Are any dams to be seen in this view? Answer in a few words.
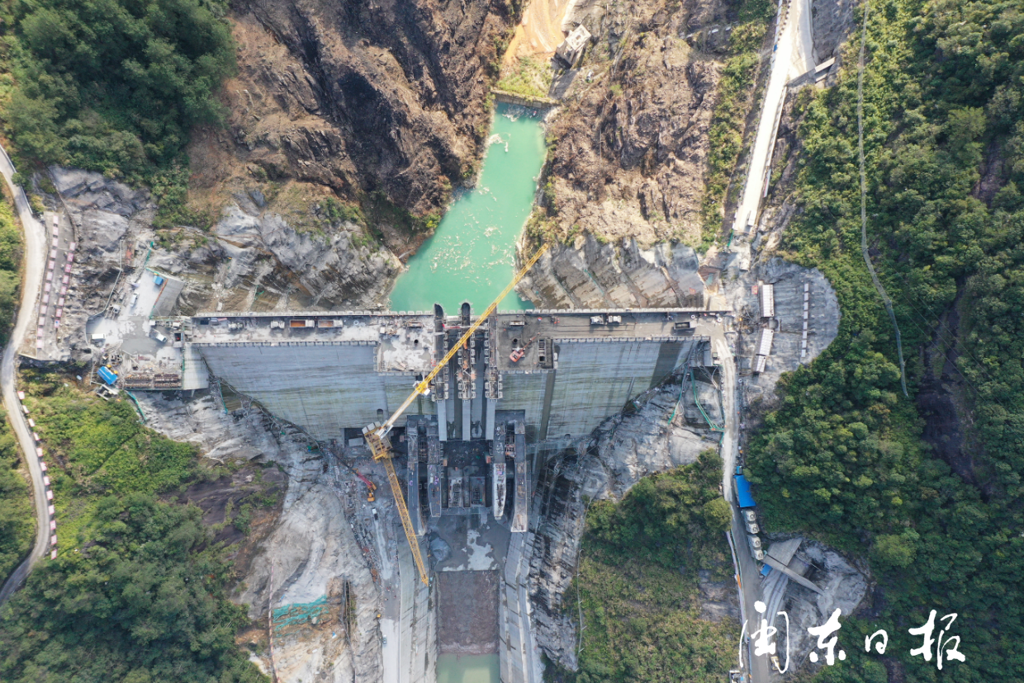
Yes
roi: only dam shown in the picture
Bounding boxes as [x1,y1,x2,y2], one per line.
[187,298,734,467]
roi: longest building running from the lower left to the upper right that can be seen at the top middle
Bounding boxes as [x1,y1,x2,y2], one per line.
[557,24,591,65]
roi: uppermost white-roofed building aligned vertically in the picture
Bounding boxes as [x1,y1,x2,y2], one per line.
[762,284,777,317]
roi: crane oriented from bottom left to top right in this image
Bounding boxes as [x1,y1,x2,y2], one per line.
[377,245,548,436]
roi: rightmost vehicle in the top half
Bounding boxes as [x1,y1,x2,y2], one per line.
[746,207,758,228]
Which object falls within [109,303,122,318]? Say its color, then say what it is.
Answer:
white vehicle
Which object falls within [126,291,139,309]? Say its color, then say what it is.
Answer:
white vehicle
